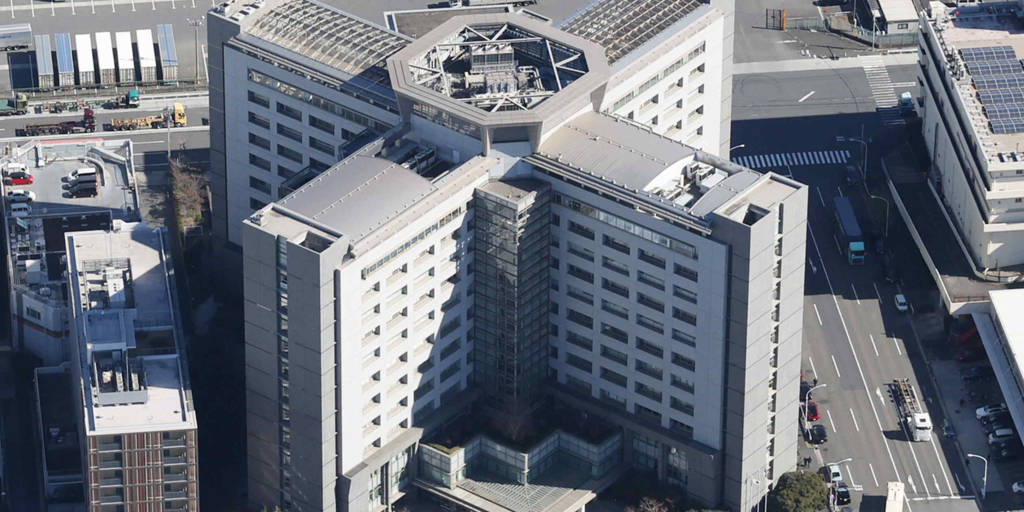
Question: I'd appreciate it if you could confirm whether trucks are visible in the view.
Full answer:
Yes, the frame does contain a truck.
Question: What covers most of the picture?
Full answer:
The largest share of the image is taken up by buildings.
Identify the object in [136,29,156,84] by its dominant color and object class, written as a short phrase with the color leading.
white trailer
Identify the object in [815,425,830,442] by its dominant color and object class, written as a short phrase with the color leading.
black car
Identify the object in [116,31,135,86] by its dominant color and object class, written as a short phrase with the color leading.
white trailer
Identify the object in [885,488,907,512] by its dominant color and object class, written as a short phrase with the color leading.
white truck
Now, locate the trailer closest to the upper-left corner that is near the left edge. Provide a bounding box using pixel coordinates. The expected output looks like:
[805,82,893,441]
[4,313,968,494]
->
[0,22,31,49]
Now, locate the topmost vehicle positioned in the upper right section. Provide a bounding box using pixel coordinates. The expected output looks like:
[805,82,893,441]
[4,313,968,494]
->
[898,95,912,116]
